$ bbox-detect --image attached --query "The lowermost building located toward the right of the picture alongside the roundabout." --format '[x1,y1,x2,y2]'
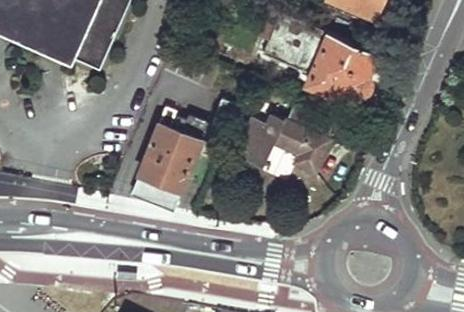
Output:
[246,114,334,176]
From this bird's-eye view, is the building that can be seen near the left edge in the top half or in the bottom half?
top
